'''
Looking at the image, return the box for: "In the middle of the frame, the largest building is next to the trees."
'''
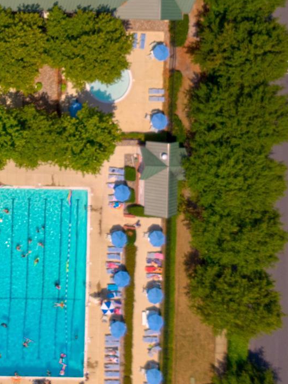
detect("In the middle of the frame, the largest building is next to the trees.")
[119,141,194,219]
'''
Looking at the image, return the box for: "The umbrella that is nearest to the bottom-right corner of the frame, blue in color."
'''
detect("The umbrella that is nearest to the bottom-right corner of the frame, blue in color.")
[145,367,162,384]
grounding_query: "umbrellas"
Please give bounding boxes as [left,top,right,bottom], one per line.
[152,44,168,59]
[145,367,162,384]
[145,313,162,330]
[147,231,165,248]
[145,288,162,304]
[110,230,127,247]
[150,111,168,129]
[102,301,114,314]
[109,320,127,336]
[113,269,130,286]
